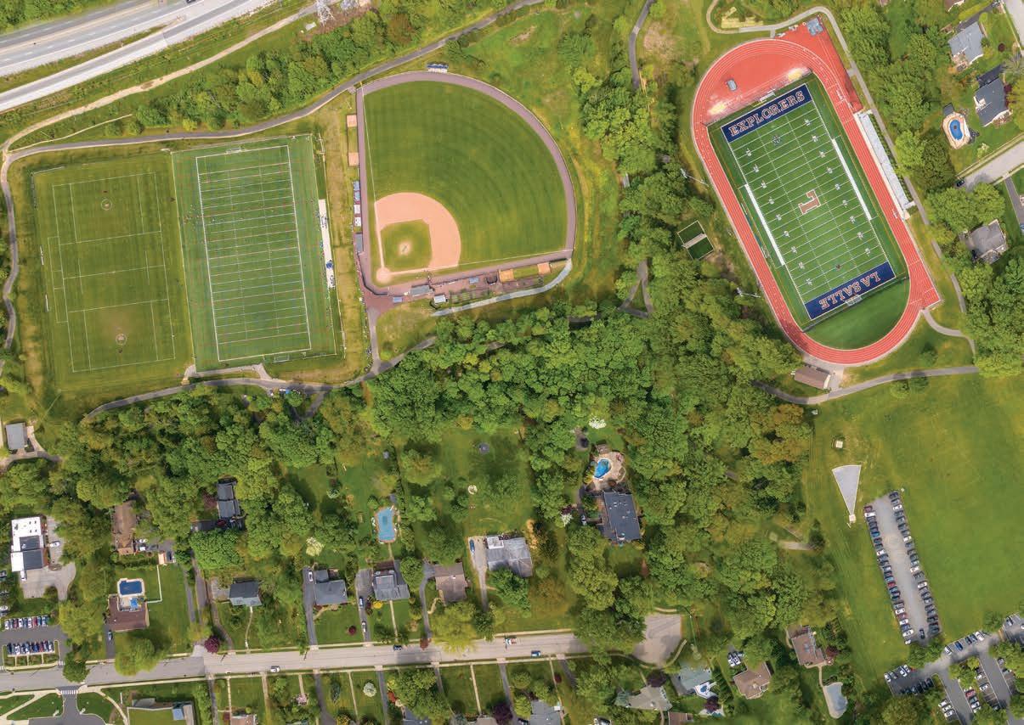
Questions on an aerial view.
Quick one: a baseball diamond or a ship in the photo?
baseball diamond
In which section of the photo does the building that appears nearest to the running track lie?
right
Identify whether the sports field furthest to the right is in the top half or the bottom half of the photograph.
top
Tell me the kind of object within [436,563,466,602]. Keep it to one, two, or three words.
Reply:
house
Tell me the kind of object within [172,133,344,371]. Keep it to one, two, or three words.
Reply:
sports field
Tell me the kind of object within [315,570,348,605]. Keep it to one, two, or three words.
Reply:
house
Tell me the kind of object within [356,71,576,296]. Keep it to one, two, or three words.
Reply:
baseball field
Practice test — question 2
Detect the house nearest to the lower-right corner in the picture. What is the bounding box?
[792,633,825,666]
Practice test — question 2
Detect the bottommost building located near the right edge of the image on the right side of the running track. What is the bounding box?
[967,219,1006,259]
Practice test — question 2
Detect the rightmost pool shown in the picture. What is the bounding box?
[943,112,971,149]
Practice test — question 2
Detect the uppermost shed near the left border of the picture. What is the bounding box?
[5,423,28,449]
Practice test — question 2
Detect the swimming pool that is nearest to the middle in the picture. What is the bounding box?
[592,452,625,491]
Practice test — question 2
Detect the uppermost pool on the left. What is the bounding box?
[375,506,397,544]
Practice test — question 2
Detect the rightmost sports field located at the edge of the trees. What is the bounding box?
[706,75,907,349]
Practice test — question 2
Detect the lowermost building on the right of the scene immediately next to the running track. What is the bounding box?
[795,366,831,388]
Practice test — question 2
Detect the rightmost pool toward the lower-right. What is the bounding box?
[823,682,848,718]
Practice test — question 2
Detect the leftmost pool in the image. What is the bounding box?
[118,579,144,610]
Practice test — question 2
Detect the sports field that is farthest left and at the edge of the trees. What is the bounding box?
[34,153,194,397]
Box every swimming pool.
[118,579,144,610]
[592,452,625,491]
[375,506,397,544]
[943,112,971,149]
[823,682,848,718]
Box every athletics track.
[687,17,940,367]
